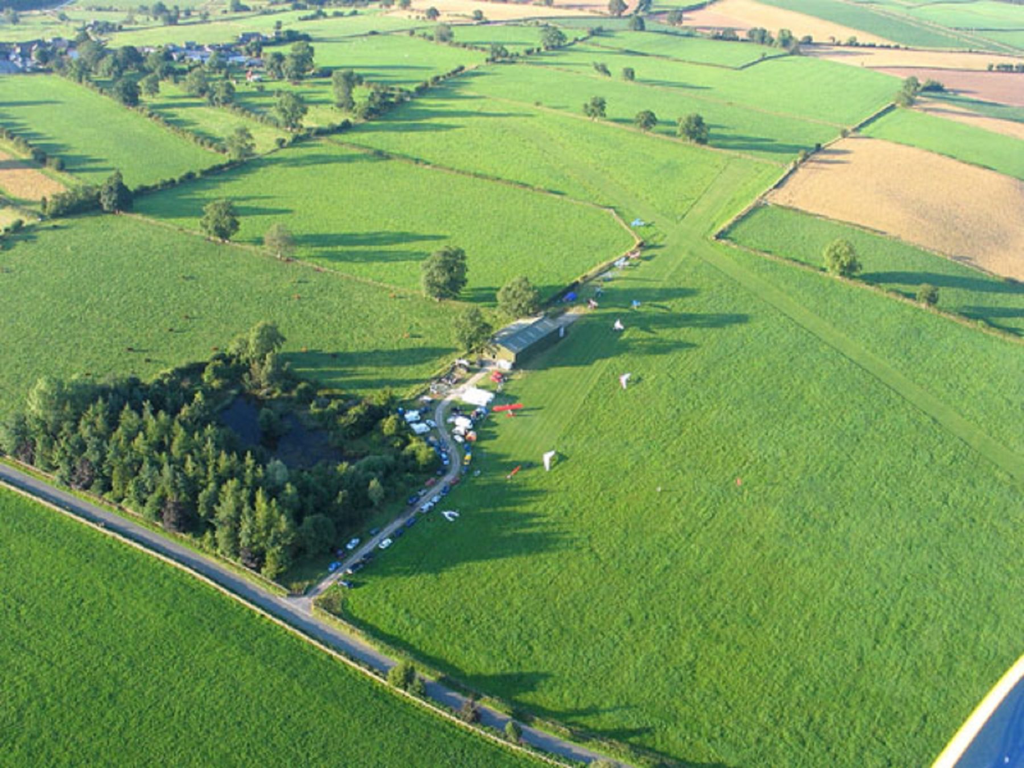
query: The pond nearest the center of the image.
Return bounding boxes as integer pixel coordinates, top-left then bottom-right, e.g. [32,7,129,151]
[275,412,339,464]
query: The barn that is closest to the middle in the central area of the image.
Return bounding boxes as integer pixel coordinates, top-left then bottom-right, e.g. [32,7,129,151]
[485,310,570,366]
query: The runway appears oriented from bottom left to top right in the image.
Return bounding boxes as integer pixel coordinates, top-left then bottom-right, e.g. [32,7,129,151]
[655,162,784,250]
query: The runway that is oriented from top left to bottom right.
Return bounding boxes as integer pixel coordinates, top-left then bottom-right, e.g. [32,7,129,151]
[535,137,1024,483]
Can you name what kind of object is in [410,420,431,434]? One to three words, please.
camper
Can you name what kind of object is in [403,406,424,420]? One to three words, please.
camper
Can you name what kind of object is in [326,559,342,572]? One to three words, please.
vehicle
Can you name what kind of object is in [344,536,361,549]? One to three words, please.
vehicle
